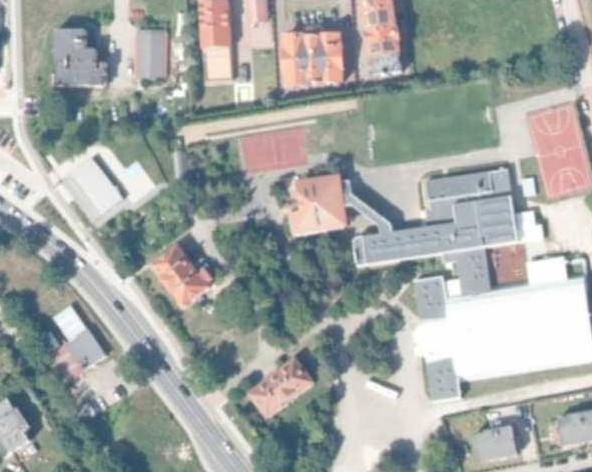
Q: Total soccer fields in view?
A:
1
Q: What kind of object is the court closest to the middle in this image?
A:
tennis court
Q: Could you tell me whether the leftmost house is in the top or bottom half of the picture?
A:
bottom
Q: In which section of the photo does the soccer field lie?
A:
top right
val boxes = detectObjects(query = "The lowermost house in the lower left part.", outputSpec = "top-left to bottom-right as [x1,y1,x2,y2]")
[0,393,34,454]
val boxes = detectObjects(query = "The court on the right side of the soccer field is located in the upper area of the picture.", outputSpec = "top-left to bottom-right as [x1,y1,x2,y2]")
[525,100,592,201]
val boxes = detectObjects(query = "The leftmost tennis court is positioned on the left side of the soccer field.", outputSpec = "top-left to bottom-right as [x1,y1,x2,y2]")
[236,126,308,175]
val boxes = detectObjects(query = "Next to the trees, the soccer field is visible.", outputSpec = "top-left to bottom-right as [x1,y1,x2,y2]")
[362,81,498,167]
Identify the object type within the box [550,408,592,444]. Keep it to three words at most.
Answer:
house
